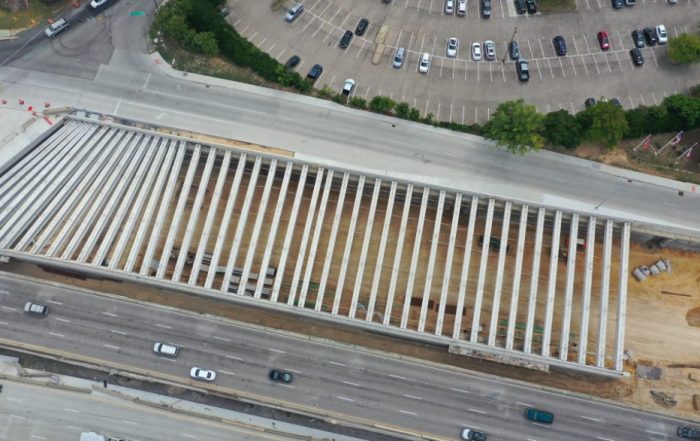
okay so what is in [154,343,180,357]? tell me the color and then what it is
white vehicle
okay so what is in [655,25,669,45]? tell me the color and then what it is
white vehicle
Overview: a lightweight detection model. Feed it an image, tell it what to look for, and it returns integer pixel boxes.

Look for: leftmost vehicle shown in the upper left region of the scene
[47,18,68,36]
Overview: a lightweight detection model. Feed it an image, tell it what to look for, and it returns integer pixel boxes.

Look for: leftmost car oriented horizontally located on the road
[25,302,49,316]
